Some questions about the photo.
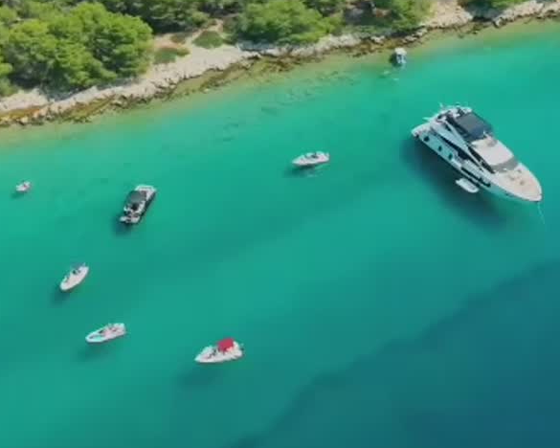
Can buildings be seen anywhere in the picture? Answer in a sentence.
No, no building is visible in the scene.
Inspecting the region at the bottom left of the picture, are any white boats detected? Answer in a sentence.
Yes, looking at the bottom left of the picture, one can make out a white boat.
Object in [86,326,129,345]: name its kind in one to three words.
boat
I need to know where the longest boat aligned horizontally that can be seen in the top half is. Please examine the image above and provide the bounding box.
[292,156,331,169]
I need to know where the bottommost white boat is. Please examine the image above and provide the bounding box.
[196,343,244,367]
